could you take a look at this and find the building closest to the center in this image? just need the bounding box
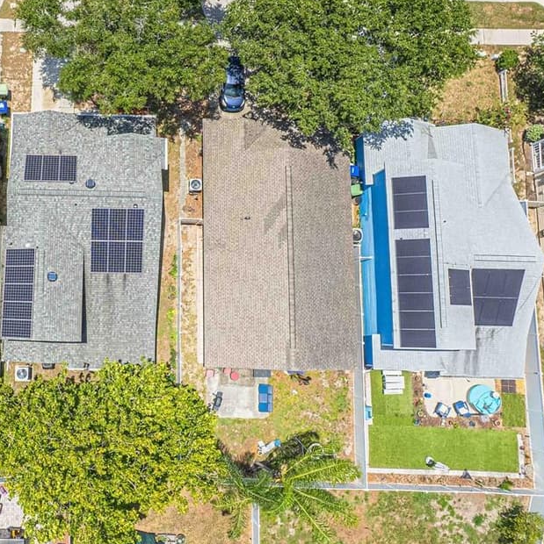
[200,117,362,370]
